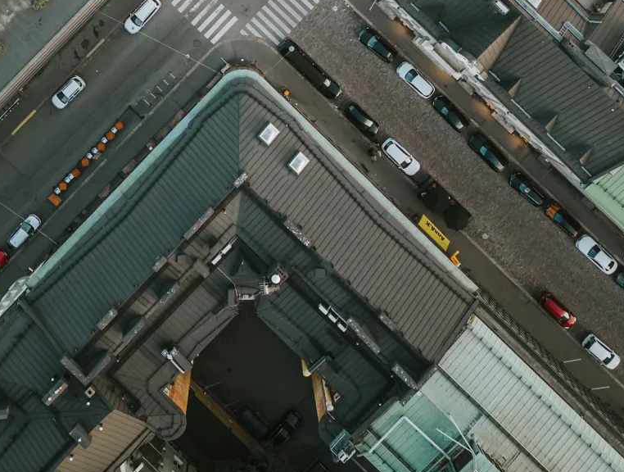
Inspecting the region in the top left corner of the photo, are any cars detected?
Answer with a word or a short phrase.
Yes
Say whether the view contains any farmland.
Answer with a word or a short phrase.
No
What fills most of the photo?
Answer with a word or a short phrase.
buildings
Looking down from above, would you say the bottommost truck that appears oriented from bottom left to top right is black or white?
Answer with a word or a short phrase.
black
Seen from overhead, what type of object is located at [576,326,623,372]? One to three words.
car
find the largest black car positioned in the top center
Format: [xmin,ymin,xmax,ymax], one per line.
[274,36,344,102]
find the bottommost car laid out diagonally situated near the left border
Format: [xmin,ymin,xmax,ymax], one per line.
[1,209,46,254]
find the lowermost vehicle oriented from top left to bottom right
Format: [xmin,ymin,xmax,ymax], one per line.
[231,398,273,443]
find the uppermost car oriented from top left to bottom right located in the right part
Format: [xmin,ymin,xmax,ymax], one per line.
[354,22,401,68]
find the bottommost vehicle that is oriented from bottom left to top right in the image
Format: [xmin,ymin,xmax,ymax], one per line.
[265,403,308,450]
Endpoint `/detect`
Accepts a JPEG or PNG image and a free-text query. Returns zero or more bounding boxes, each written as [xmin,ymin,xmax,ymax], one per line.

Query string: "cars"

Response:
[463,129,511,174]
[392,58,438,102]
[342,100,381,138]
[120,0,166,36]
[1,209,46,254]
[354,22,401,68]
[376,133,423,178]
[274,36,344,102]
[505,167,549,209]
[48,69,89,112]
[427,92,470,134]
[574,232,619,275]
[536,289,578,331]
[611,265,624,289]
[576,326,623,372]
[541,199,584,240]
